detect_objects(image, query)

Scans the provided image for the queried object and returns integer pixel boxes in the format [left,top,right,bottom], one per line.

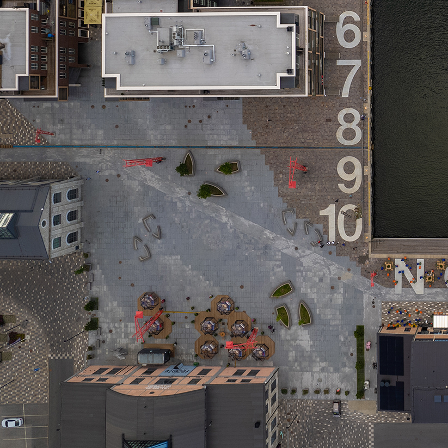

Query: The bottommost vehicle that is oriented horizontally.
[0,418,23,431]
